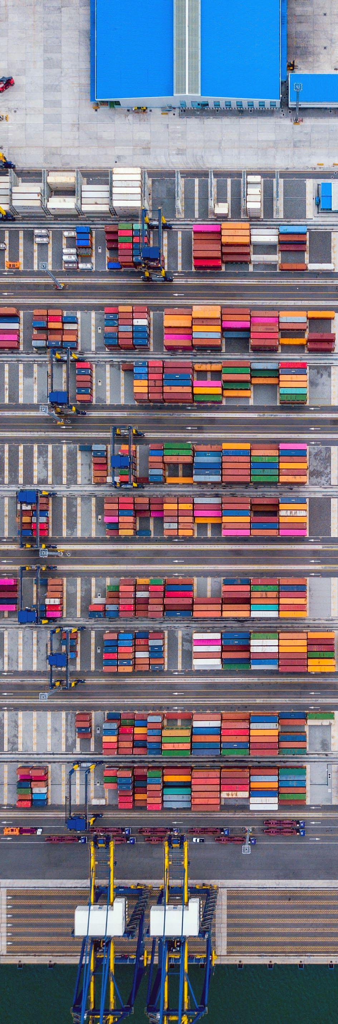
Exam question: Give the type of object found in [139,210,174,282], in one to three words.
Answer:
container crane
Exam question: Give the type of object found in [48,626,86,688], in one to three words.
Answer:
container crane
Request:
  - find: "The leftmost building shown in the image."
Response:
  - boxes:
[90,0,287,109]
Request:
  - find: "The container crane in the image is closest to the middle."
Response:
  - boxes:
[110,425,146,490]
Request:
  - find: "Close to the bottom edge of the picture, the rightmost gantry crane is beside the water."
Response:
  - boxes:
[143,827,225,1024]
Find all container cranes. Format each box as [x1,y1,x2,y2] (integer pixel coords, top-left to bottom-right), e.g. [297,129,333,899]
[18,564,57,629]
[143,827,225,1024]
[139,210,174,282]
[48,626,86,688]
[48,349,87,415]
[67,761,104,836]
[110,425,146,490]
[18,488,57,549]
[68,827,158,1024]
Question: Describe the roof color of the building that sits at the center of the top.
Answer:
blue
